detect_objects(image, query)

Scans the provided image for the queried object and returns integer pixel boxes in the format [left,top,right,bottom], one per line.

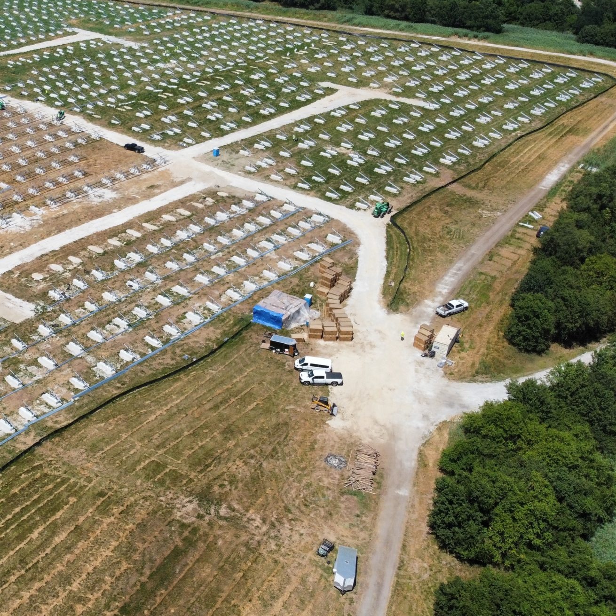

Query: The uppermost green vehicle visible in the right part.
[370,199,396,216]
